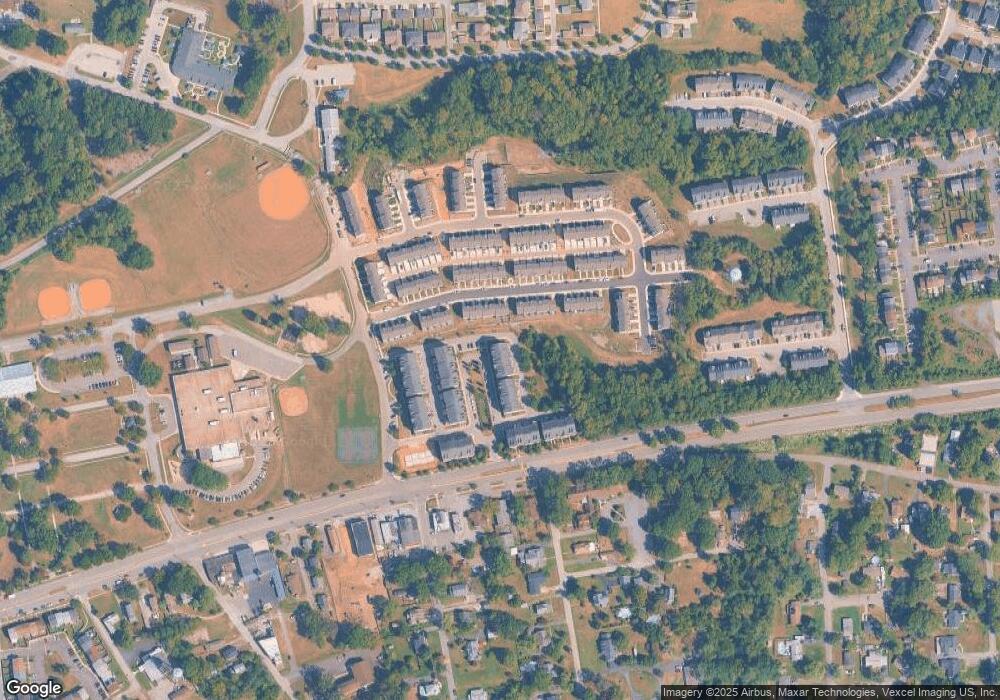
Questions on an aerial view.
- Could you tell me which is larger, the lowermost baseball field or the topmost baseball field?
the topmost baseball field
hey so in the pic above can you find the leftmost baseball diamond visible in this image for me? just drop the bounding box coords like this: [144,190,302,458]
[39,286,71,319]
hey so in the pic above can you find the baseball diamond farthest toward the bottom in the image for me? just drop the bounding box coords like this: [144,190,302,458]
[279,387,309,416]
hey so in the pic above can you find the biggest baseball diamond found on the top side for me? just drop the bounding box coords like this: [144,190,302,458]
[259,164,310,221]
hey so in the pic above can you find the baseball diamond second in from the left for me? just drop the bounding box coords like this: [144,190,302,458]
[79,278,111,312]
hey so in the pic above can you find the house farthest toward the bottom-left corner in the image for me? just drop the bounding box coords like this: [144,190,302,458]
[10,658,27,681]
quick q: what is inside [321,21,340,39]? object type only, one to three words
house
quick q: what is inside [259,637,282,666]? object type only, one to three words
building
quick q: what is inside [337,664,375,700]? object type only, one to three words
building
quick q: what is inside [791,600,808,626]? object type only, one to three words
house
